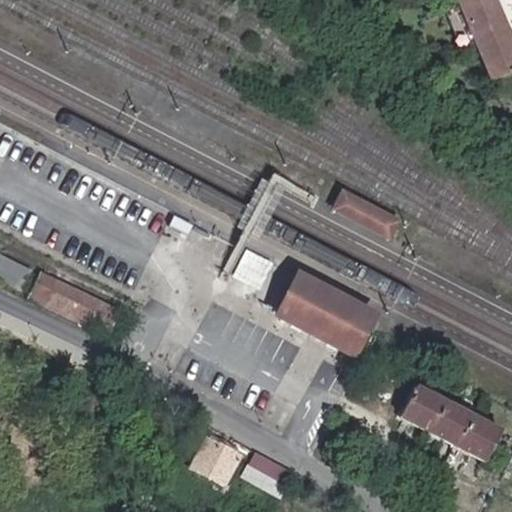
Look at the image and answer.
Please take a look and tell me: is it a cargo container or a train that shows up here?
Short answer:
train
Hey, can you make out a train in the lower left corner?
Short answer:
No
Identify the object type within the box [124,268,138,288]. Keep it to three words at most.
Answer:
car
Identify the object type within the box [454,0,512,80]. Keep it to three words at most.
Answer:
house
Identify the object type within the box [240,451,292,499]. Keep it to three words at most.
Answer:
barn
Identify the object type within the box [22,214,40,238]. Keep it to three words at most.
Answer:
car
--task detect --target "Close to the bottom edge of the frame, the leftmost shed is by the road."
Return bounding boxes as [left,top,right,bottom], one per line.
[189,436,246,490]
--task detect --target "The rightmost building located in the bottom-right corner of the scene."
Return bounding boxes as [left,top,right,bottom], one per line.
[400,384,503,463]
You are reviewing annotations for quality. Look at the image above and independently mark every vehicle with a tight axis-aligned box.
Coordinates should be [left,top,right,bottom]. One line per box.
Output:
[0,134,13,158]
[186,360,200,382]
[89,183,102,202]
[76,242,91,264]
[113,261,128,282]
[211,372,225,392]
[244,384,260,410]
[22,214,40,238]
[114,195,130,217]
[64,236,80,258]
[102,256,117,278]
[20,146,34,166]
[88,247,105,272]
[30,152,46,174]
[74,176,91,200]
[126,200,141,222]
[60,168,78,195]
[8,142,23,161]
[0,202,14,223]
[138,206,152,226]
[46,230,60,248]
[222,377,236,398]
[100,189,116,212]
[256,390,270,410]
[149,212,165,234]
[124,268,138,288]
[48,163,62,184]
[11,210,26,231]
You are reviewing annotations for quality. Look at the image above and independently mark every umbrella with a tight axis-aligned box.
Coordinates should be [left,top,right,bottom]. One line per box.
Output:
[456,34,470,48]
